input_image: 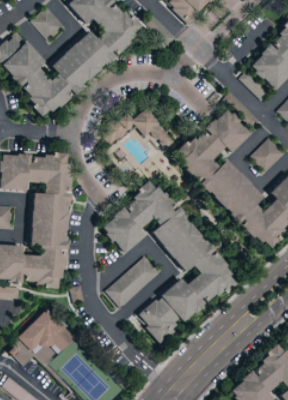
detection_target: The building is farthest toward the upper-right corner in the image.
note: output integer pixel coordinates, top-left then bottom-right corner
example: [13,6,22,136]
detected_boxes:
[254,34,288,90]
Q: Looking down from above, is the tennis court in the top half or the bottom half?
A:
bottom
